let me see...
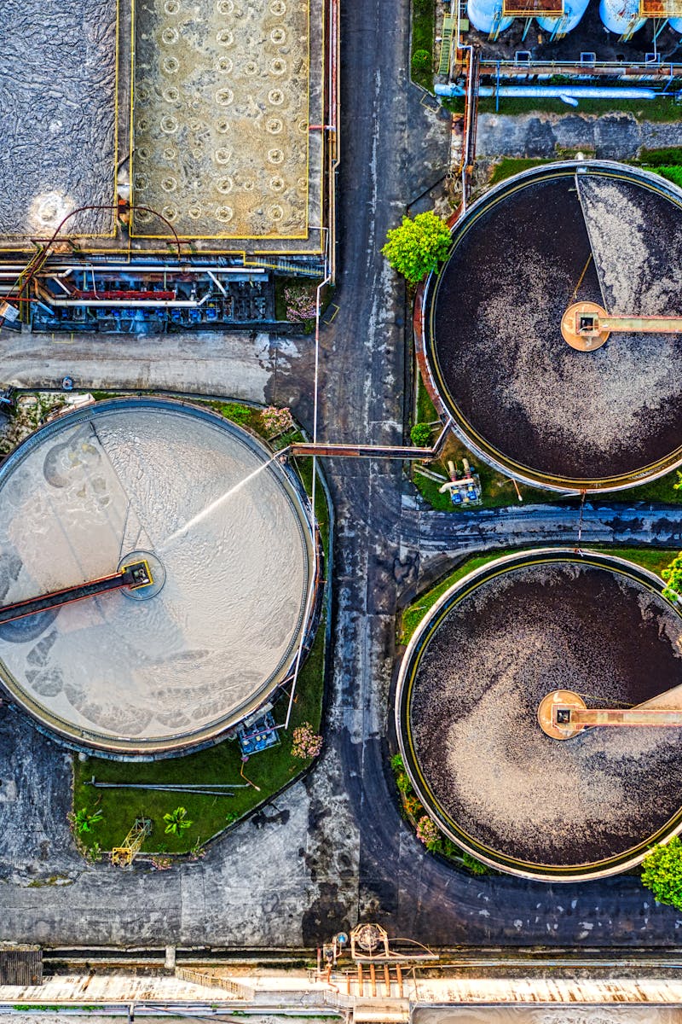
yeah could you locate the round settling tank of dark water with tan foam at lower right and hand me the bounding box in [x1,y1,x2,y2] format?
[395,548,682,882]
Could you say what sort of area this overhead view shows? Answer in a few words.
industrial area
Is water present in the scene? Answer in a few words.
Yes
